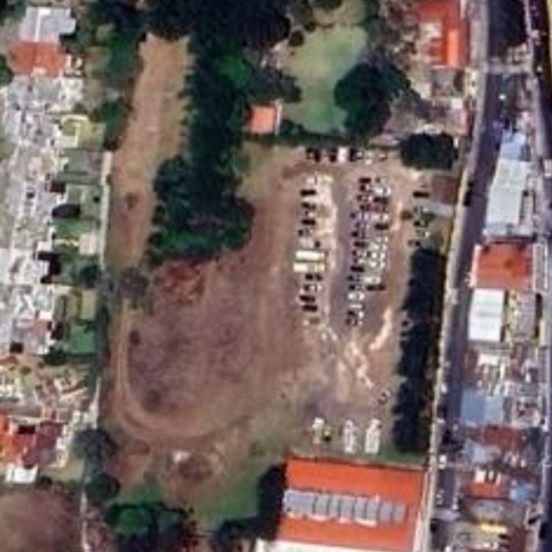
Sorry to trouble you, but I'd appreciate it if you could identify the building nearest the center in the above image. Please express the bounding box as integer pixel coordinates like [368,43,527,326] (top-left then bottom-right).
[245,99,282,140]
